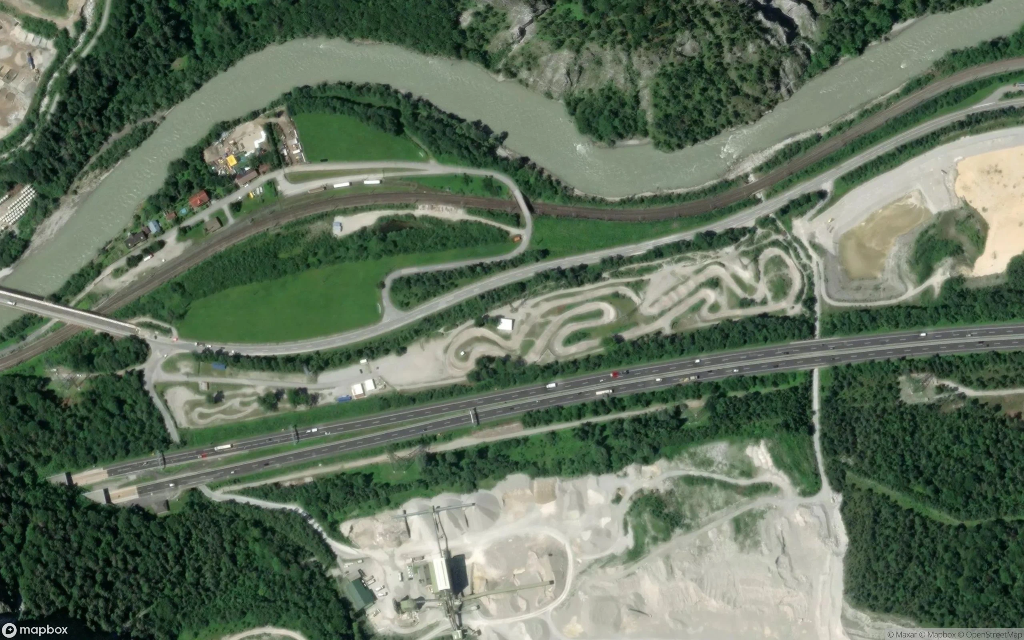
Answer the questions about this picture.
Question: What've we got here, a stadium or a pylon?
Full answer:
It is a pylon that can be seen here.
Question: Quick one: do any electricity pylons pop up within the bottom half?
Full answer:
Yes, the scene does show an electricity pylon within the bottom half.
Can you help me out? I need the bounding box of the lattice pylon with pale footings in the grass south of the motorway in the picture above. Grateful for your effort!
[388,441,405,473]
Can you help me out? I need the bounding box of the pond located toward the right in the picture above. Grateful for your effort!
[838,195,931,280]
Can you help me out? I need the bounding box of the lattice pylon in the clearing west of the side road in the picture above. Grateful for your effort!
[55,361,80,392]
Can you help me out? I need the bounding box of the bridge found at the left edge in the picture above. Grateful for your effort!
[0,291,138,338]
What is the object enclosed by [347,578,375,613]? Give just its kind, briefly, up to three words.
building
